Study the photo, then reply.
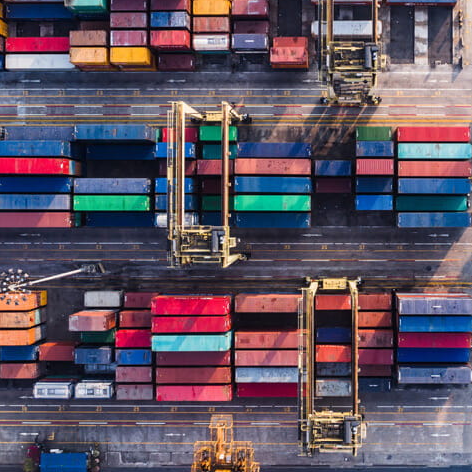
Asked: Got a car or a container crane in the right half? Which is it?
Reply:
container crane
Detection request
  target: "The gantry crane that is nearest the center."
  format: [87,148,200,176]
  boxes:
[163,95,260,276]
